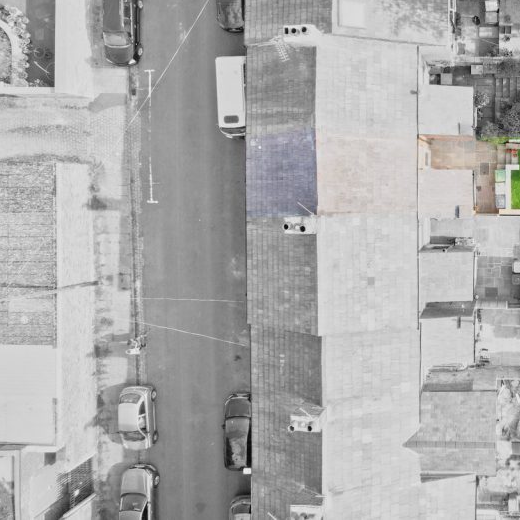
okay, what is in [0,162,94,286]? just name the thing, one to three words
building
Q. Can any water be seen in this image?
No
